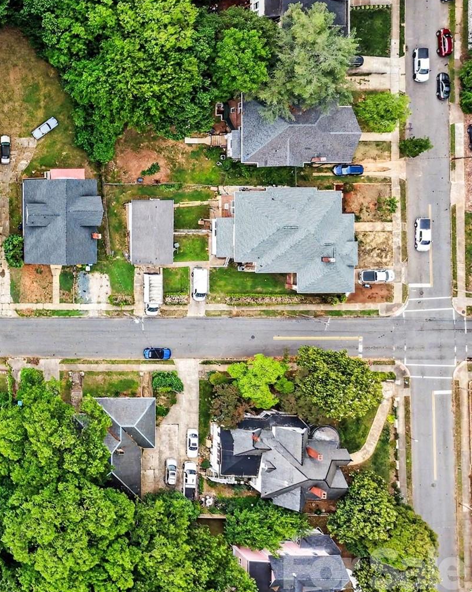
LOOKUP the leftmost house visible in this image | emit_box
[22,168,108,268]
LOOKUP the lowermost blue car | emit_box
[143,347,170,361]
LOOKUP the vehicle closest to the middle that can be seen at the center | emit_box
[192,268,207,300]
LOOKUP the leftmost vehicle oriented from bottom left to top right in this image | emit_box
[31,117,59,140]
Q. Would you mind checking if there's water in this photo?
No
